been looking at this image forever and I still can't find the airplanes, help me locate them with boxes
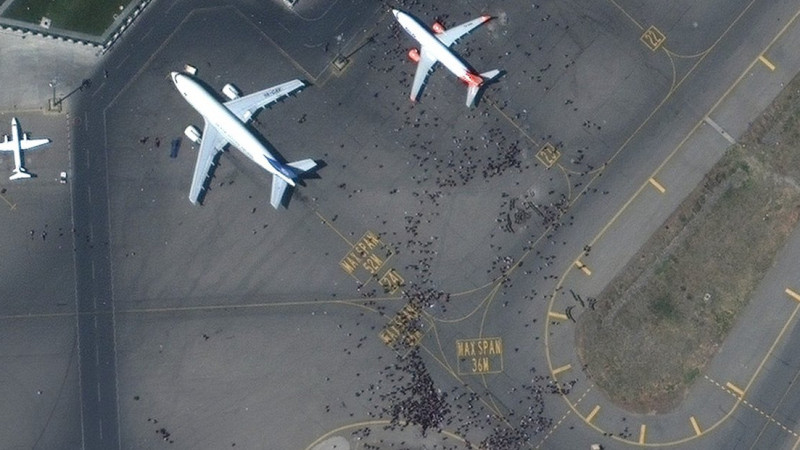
[0,118,49,179]
[171,73,318,209]
[392,9,503,105]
